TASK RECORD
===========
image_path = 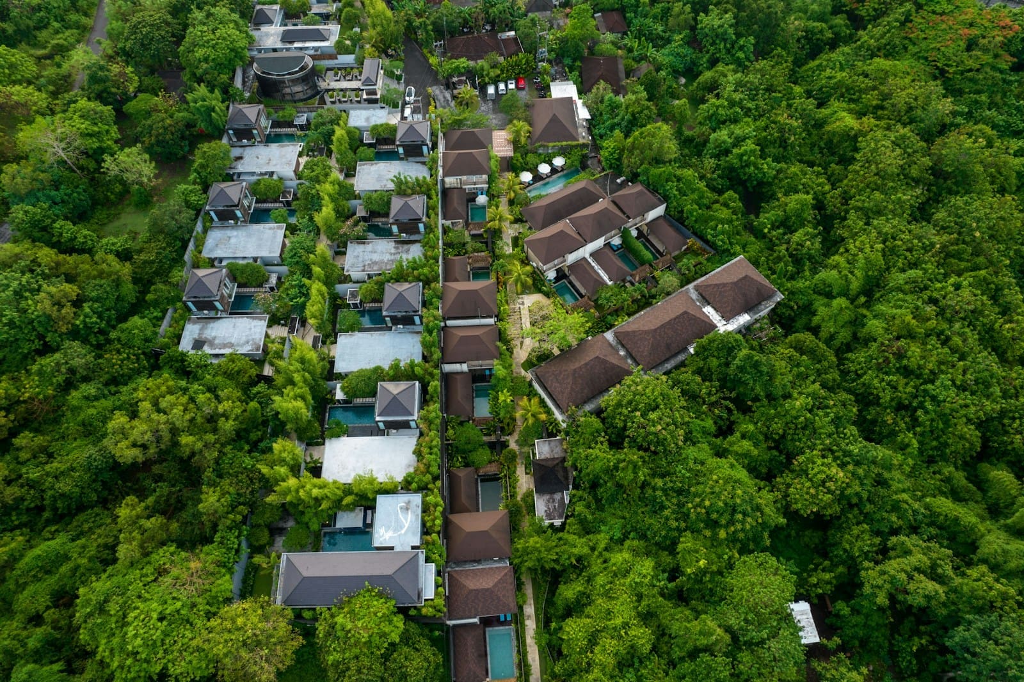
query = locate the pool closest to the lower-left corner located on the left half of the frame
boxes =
[320,529,376,551]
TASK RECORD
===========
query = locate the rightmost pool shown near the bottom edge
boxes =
[485,627,516,681]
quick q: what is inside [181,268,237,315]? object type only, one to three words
building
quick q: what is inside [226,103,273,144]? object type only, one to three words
building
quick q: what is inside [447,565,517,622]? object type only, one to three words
house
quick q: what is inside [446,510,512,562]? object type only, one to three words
house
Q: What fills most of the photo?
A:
trees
